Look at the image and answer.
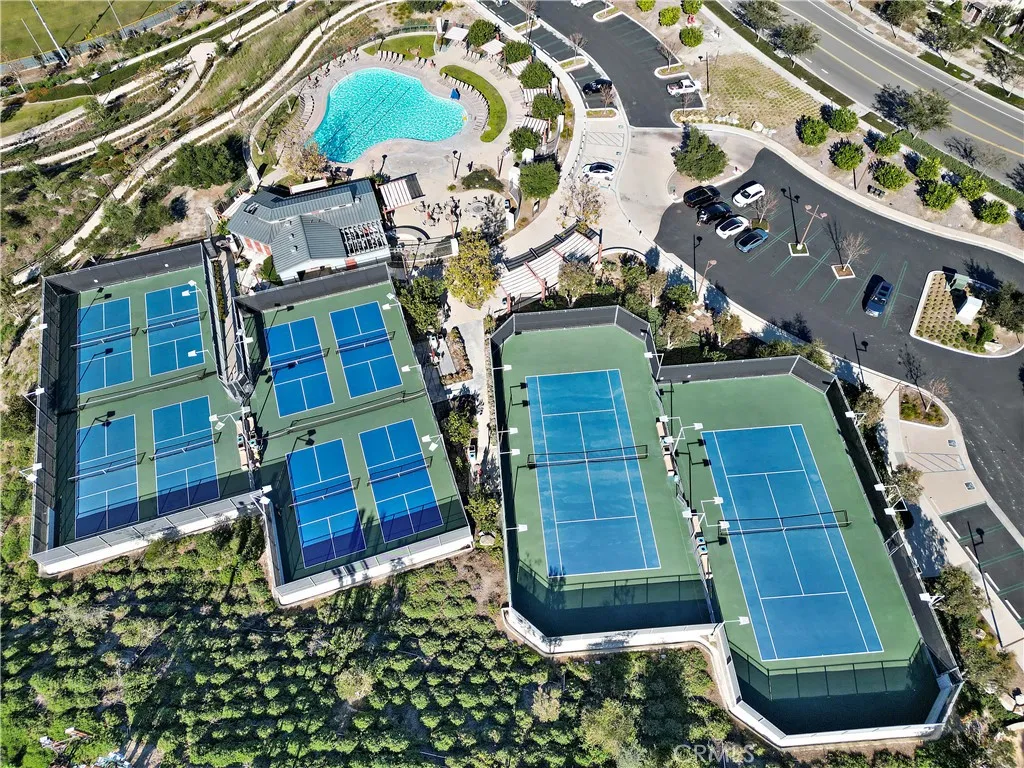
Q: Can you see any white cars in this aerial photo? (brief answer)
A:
Yes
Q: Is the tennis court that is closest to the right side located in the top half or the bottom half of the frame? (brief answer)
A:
bottom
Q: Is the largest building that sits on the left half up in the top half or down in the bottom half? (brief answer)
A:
top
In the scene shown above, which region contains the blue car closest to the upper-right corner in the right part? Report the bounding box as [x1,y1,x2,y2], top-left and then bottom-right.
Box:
[867,281,896,314]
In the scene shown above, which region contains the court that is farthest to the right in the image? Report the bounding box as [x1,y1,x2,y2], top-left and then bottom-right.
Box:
[659,373,942,737]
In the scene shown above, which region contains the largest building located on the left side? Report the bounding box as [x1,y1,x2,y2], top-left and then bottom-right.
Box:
[230,181,393,288]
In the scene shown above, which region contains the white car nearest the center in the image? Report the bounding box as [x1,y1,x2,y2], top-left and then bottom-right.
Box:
[583,164,617,180]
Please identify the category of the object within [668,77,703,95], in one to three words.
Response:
vehicle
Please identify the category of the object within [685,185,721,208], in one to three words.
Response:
car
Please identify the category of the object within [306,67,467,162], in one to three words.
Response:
swimming pool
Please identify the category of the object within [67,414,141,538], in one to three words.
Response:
sports court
